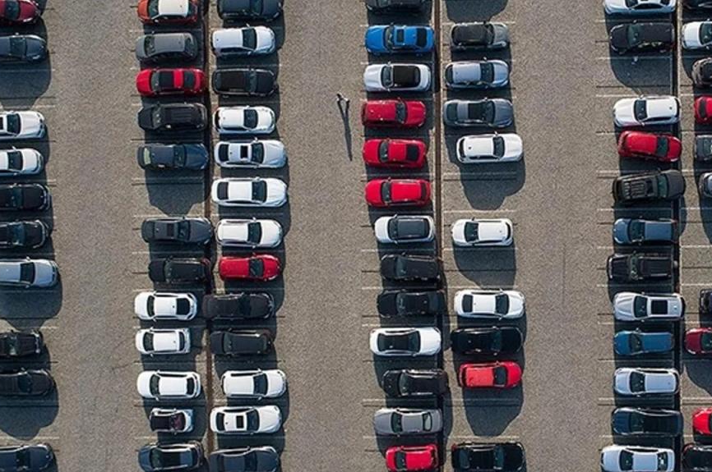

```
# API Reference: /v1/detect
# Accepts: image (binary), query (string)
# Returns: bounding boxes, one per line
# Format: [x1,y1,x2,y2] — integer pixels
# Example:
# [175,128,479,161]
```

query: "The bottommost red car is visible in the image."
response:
[386,443,438,472]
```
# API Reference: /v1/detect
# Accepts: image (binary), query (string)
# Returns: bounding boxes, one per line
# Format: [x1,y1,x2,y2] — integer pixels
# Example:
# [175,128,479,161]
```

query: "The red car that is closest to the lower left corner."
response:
[221,251,282,283]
